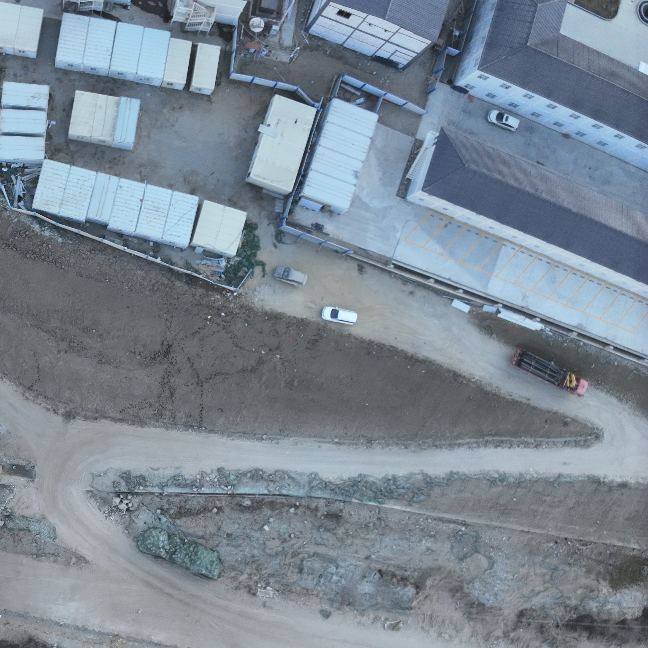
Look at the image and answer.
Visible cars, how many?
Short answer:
3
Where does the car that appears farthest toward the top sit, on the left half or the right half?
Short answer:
right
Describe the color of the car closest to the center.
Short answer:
white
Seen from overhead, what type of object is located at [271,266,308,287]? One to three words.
car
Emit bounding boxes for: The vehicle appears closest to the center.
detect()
[320,305,358,326]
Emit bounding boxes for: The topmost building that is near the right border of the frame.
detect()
[458,0,648,170]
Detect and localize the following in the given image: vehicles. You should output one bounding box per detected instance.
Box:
[271,266,308,287]
[509,347,594,398]
[320,305,358,326]
[484,110,521,133]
